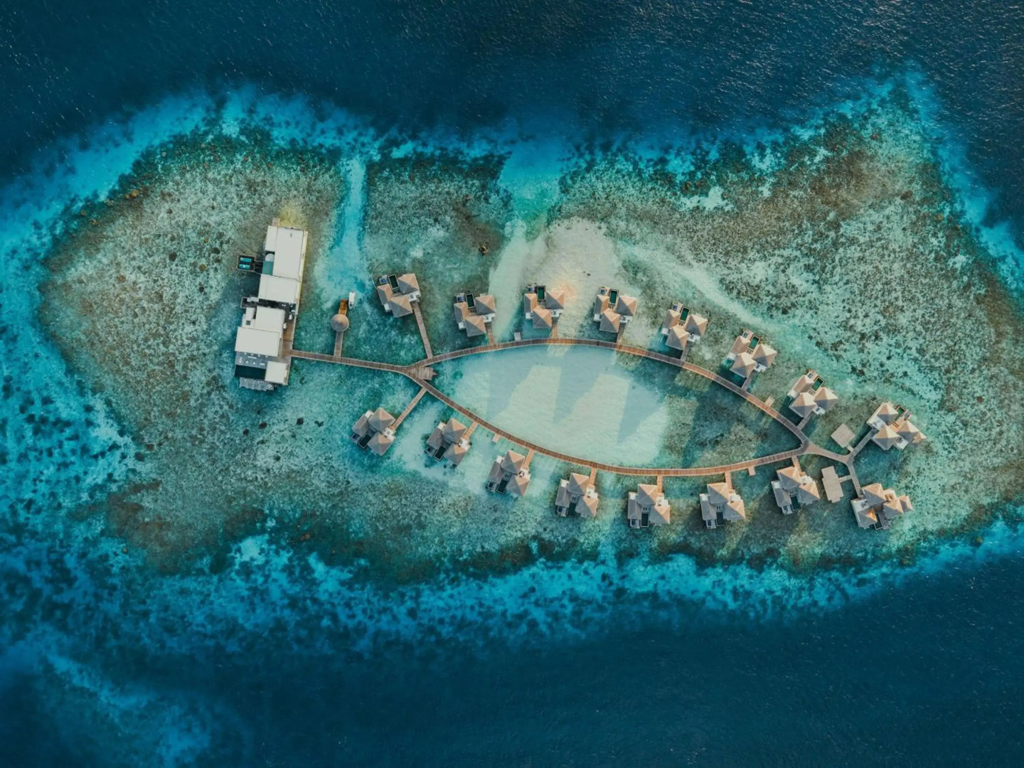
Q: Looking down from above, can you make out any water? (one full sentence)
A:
Yes, the picture does contain water.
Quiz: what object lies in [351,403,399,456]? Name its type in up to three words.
house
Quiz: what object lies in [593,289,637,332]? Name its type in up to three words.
house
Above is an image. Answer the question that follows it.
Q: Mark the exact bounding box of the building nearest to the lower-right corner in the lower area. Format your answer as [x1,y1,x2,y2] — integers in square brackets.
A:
[850,483,913,529]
